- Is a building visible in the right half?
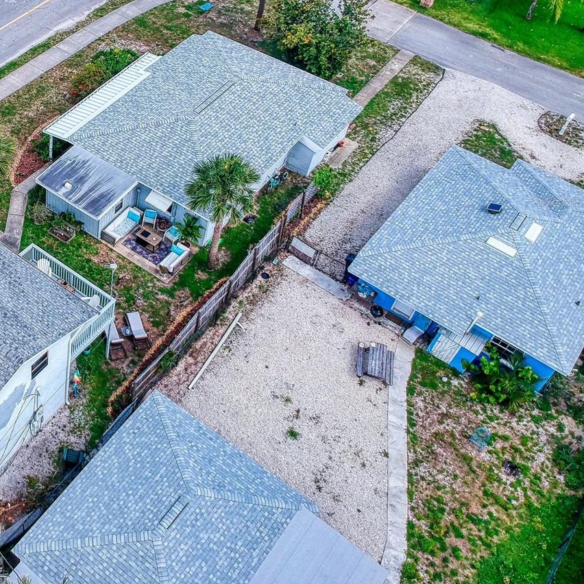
Yes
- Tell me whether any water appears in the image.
No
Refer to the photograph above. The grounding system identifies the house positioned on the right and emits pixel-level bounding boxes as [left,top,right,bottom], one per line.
[347,144,584,393]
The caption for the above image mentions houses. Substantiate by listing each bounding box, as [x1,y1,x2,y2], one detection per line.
[0,242,117,470]
[10,391,393,584]
[347,144,584,393]
[33,32,368,253]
